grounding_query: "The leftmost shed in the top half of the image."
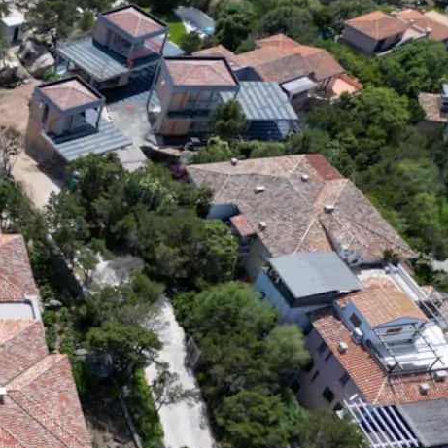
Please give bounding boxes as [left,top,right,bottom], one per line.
[1,13,25,44]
